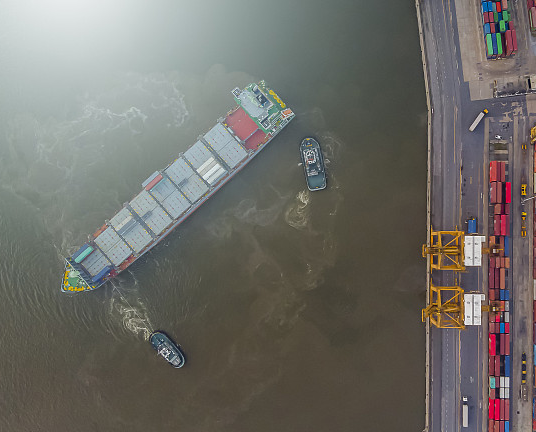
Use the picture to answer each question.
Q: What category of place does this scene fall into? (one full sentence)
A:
What you see here is a port.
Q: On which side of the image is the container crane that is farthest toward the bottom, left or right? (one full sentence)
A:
You can find the container crane that is farthest toward the bottom on the right side of the picture.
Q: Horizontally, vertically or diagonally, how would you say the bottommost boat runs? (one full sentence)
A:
The bottommost boat is laid out diagonally.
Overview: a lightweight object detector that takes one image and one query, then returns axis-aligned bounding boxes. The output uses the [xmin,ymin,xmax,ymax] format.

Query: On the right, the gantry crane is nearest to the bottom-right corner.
[419,276,502,327]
